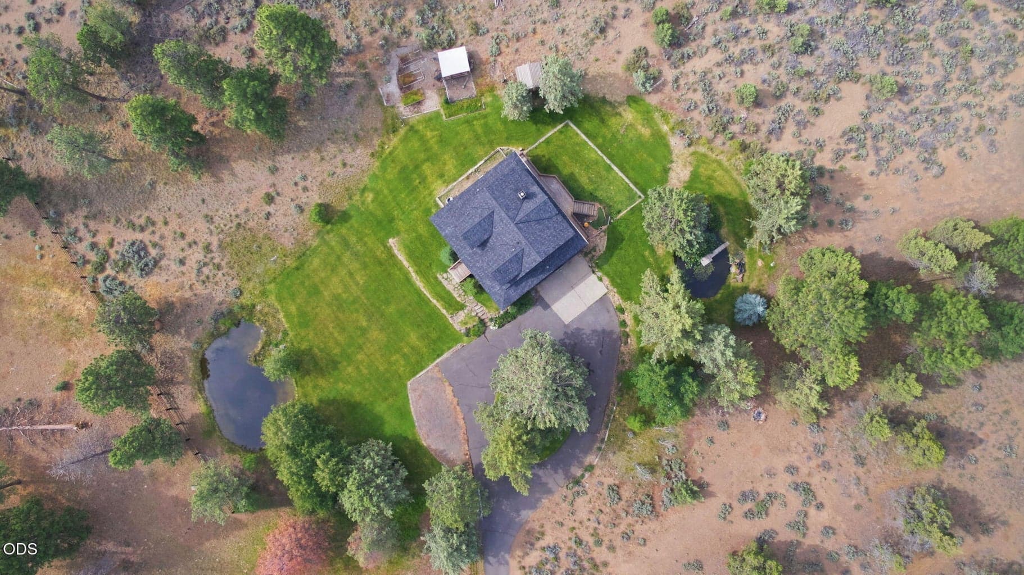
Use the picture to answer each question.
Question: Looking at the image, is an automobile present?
No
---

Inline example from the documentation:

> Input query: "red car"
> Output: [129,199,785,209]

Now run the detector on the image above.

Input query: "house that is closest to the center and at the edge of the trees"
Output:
[429,151,595,312]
